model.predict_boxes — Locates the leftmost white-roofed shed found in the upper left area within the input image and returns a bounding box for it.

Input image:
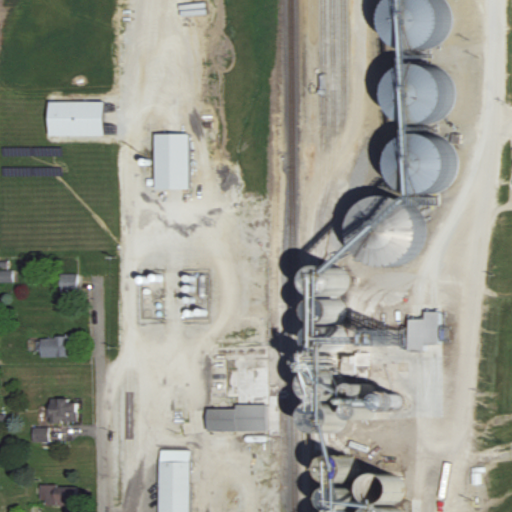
[49,102,108,138]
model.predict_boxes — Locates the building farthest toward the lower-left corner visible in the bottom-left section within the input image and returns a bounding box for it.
[40,484,80,505]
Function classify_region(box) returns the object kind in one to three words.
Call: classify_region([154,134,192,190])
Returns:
building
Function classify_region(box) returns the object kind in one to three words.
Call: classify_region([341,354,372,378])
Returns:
shed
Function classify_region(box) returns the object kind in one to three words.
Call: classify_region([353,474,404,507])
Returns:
silo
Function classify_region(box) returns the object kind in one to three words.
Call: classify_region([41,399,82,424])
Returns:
house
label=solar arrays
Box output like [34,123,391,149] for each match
[2,168,63,176]
[2,148,63,156]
